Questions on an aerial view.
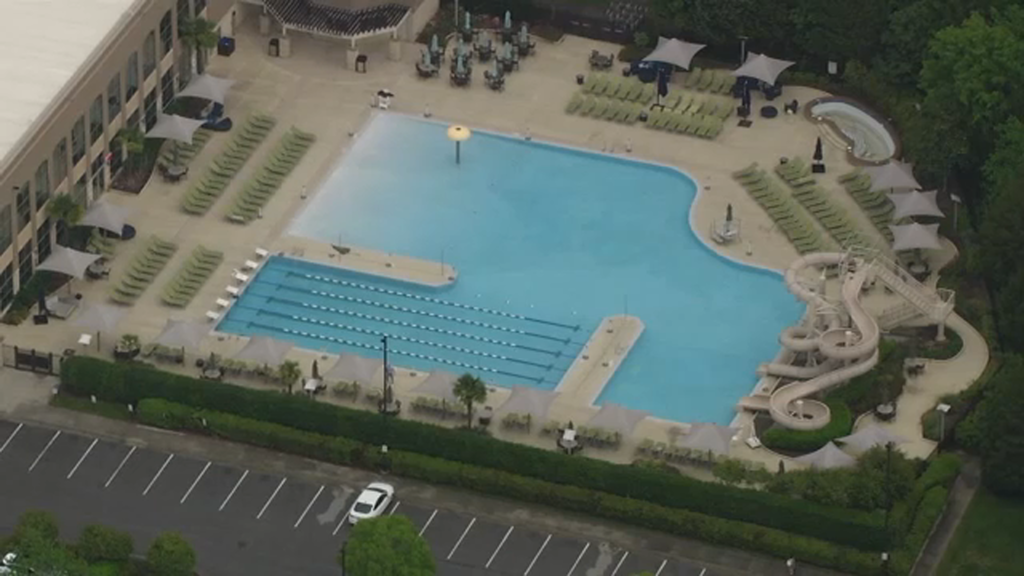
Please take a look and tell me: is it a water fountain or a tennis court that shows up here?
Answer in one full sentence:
This aerial view contains a water fountain.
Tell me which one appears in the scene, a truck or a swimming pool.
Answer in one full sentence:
The image shows a swimming pool.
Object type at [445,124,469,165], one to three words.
fountain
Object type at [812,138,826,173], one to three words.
umbrella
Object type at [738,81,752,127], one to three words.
umbrella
